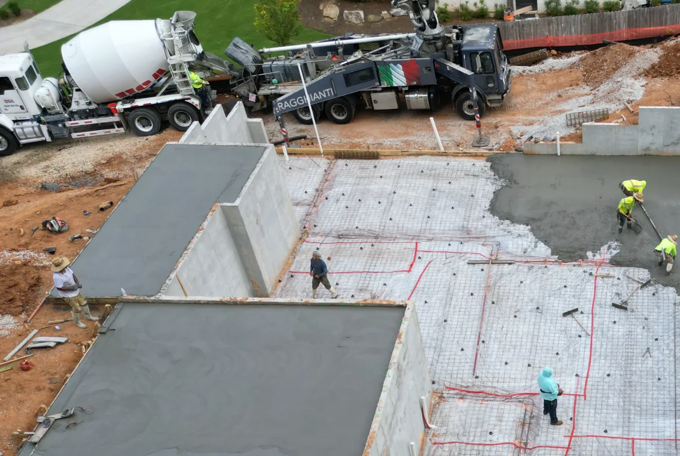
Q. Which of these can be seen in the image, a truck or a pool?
truck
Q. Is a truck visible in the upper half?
Yes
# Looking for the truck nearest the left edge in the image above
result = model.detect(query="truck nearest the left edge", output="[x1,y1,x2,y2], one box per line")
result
[0,7,251,150]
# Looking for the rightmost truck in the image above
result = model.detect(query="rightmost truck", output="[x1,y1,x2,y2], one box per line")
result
[212,0,514,145]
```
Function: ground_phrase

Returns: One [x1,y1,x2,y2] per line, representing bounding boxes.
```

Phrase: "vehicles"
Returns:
[0,7,251,150]
[212,0,514,145]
